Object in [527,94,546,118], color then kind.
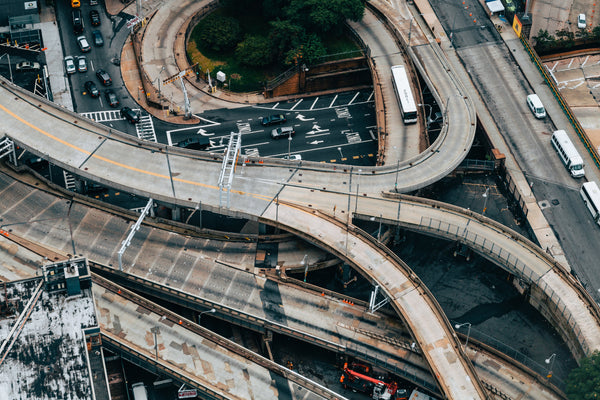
white vehicle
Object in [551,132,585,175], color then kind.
white vehicle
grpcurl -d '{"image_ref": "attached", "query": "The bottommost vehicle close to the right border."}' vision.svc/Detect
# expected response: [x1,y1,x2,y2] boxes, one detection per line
[578,182,600,225]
